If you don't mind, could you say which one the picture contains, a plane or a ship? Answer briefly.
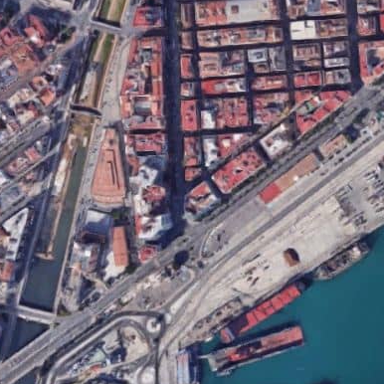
ship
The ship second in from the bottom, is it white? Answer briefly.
No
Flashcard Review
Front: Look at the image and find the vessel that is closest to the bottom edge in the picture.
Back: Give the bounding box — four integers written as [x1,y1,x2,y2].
[208,329,303,371]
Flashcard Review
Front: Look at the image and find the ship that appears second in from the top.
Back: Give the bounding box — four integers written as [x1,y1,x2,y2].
[218,280,310,346]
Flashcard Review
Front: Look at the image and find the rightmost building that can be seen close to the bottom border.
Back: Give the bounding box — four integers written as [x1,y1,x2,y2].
[177,352,191,384]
